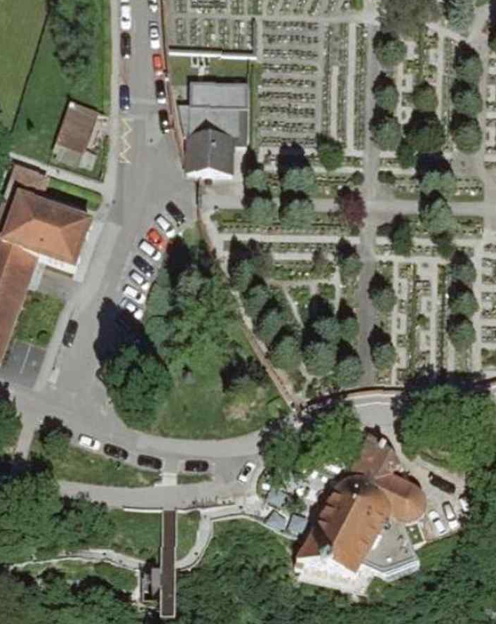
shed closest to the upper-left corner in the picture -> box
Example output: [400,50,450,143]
[57,101,97,158]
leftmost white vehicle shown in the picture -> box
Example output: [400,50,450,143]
[78,436,99,449]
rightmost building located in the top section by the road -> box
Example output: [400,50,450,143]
[179,81,249,196]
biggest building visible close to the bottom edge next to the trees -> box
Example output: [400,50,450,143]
[296,434,425,596]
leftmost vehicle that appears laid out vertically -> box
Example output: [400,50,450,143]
[64,320,77,345]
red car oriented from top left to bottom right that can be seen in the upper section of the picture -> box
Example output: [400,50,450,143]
[147,229,165,248]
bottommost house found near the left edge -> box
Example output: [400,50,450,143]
[0,162,92,363]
